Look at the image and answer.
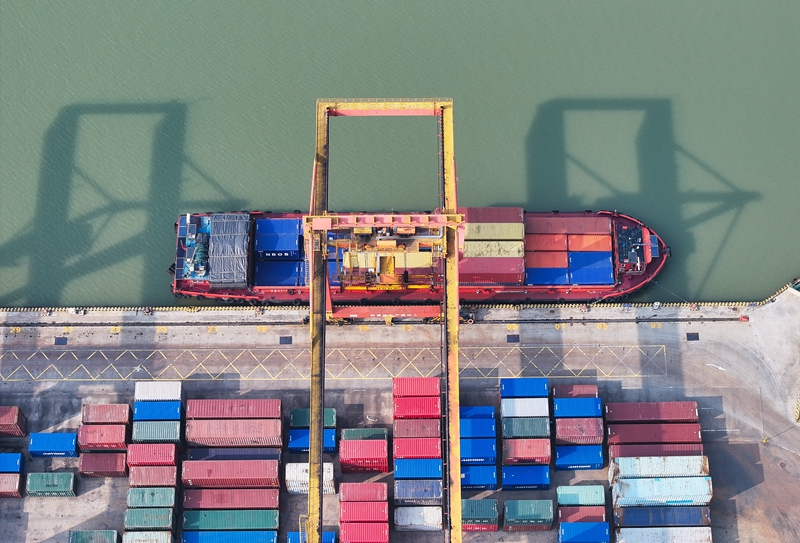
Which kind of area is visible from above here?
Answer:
port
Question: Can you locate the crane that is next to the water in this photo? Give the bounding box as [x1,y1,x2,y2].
[300,97,473,543]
